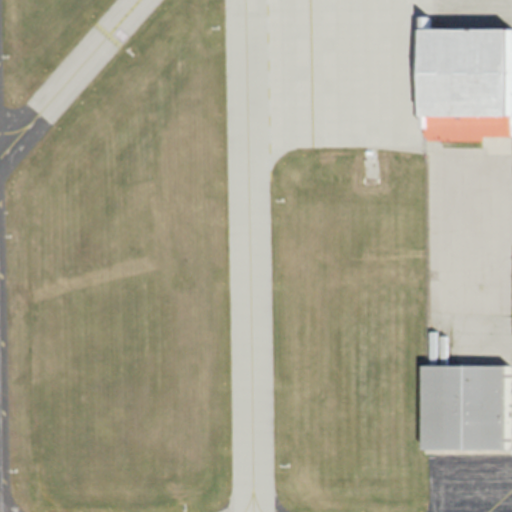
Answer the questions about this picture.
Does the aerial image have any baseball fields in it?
No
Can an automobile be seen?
No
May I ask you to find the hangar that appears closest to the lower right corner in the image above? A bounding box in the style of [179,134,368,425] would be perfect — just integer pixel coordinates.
[420,366,510,450]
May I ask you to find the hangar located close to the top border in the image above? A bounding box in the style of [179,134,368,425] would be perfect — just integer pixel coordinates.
[415,16,512,117]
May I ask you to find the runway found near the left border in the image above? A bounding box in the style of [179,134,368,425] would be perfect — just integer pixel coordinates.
[0,0,55,512]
